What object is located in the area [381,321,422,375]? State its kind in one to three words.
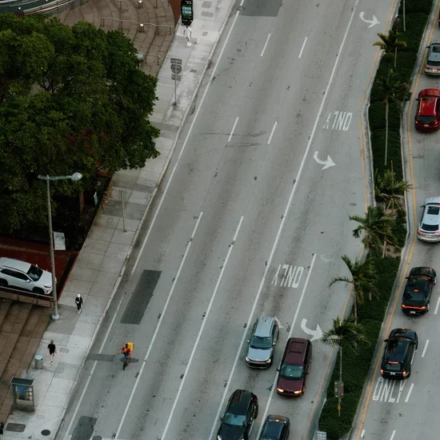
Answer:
car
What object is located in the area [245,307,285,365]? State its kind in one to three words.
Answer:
car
